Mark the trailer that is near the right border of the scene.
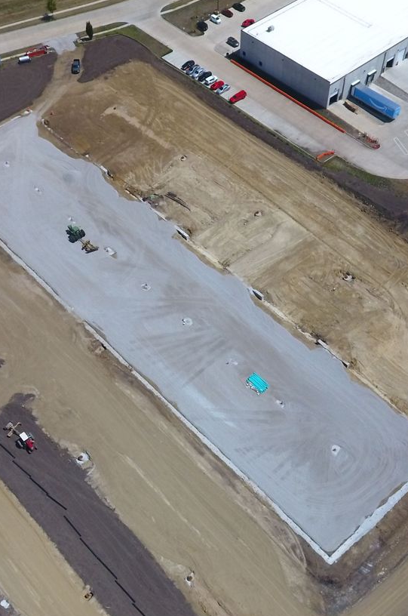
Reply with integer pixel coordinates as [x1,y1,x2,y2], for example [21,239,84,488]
[353,77,399,113]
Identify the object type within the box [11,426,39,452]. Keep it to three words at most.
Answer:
work vehicle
